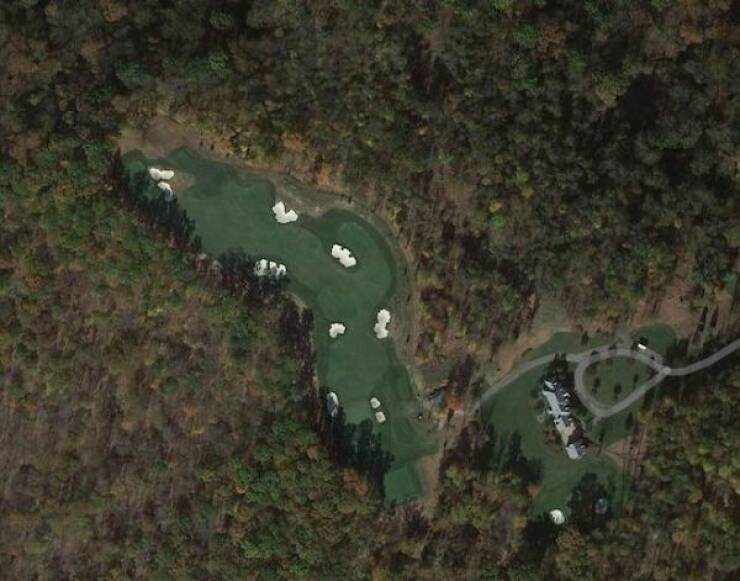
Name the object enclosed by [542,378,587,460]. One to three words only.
house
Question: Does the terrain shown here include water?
No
